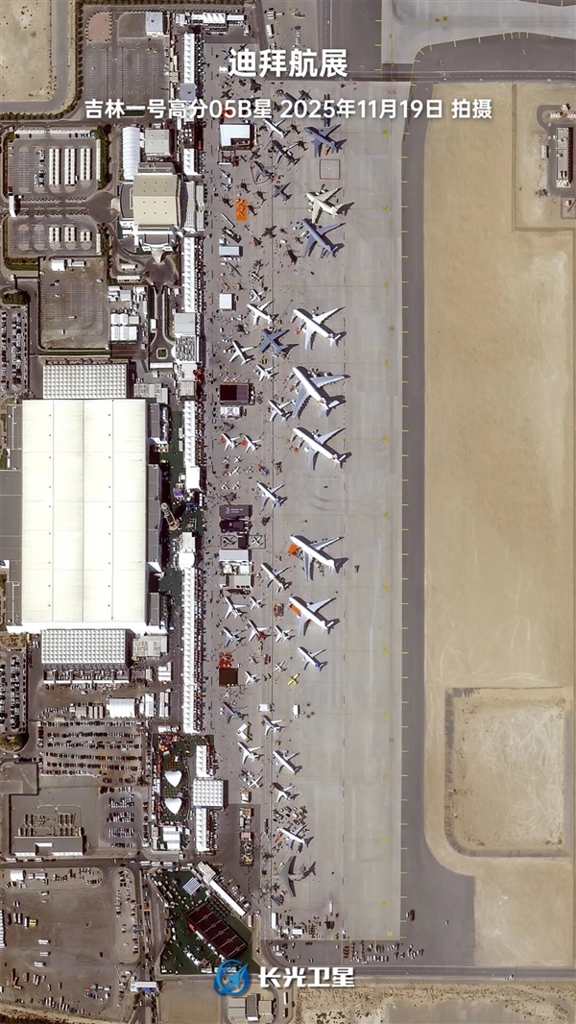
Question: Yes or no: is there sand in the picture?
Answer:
Yes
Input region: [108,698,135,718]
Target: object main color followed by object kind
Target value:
white tent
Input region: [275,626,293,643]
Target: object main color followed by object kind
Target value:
white airplane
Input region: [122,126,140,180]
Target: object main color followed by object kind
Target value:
white tent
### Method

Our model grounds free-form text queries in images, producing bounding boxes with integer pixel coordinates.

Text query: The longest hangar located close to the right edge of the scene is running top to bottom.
[556,128,570,191]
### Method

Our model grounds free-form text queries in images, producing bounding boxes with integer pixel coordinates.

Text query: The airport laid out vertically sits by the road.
[198,0,576,966]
